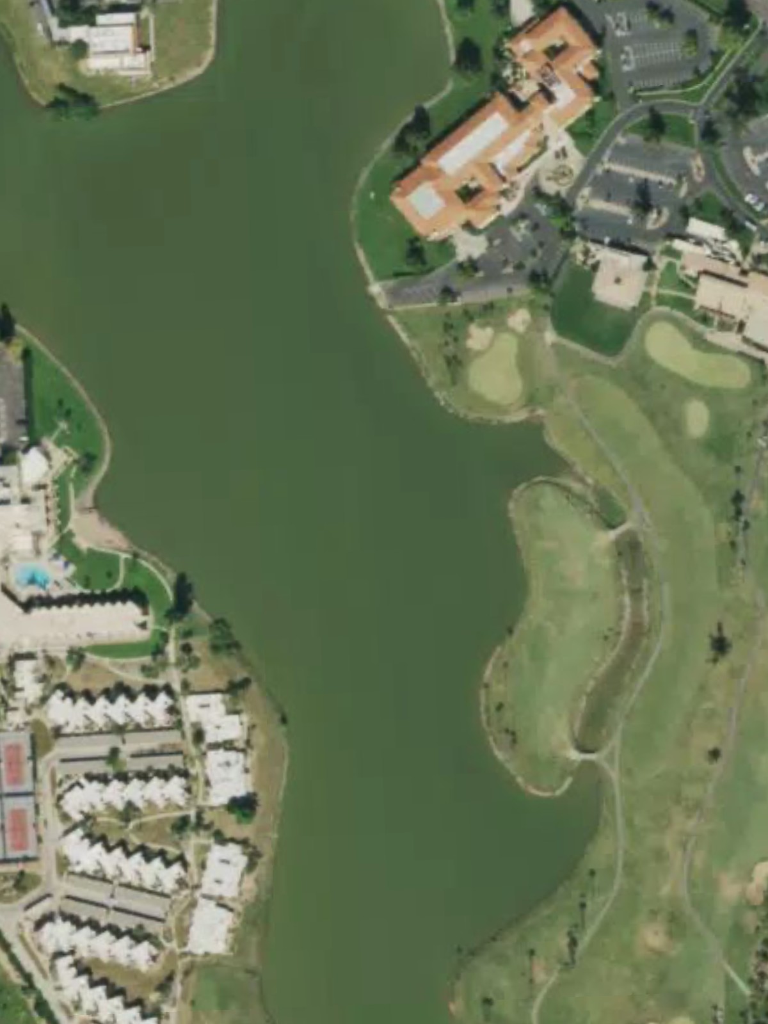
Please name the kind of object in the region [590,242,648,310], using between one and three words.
building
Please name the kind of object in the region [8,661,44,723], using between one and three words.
house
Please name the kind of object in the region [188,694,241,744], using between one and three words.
building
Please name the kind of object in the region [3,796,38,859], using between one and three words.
tennis court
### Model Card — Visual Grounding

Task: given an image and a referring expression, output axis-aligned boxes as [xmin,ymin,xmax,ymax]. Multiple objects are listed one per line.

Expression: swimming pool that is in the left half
[12,560,54,590]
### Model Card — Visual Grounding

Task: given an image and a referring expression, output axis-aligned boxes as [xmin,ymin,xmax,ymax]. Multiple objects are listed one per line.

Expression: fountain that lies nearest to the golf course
[553,163,573,183]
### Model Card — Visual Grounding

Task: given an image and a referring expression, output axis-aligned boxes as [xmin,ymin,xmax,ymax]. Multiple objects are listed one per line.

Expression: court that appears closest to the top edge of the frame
[0,732,35,794]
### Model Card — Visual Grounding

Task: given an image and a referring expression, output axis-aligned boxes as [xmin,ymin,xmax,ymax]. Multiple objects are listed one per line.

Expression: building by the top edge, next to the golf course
[391,6,603,242]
